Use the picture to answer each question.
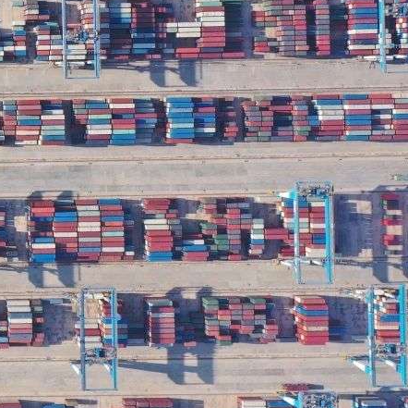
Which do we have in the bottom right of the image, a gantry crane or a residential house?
gantry crane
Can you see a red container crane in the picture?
No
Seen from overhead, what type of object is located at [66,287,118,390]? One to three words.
container crane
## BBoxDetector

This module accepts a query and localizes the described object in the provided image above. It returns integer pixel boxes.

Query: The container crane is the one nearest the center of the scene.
[273,179,334,284]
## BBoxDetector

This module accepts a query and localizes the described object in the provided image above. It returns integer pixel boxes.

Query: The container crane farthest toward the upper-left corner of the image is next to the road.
[49,0,99,79]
